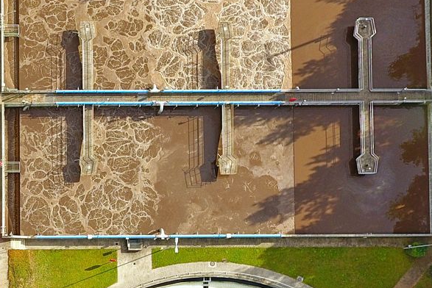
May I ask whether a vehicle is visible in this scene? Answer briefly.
No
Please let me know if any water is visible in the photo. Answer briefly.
Yes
